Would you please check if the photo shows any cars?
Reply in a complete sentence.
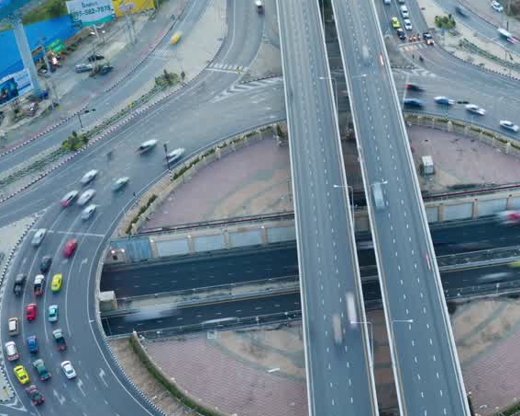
Yes, there's a car here.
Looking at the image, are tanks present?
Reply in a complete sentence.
No, no tank can be seen from above.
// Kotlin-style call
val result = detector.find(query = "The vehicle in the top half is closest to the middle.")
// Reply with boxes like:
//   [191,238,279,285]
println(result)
[164,149,186,163]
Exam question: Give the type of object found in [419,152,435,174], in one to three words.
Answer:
building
